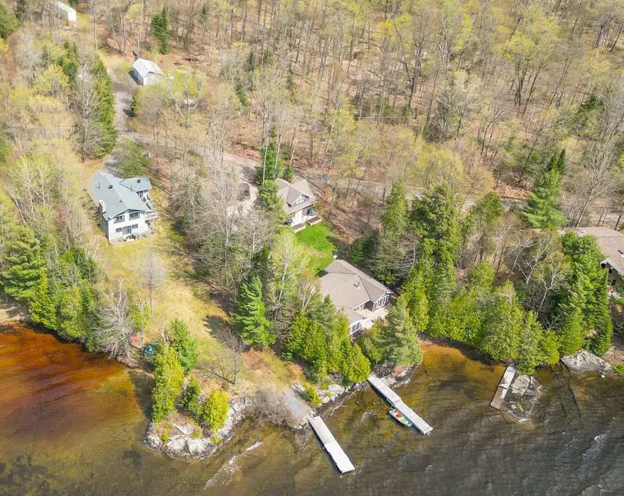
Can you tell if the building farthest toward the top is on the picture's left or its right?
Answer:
left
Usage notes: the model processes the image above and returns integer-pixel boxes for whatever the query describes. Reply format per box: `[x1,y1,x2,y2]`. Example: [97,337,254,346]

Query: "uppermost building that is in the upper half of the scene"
[133,58,162,86]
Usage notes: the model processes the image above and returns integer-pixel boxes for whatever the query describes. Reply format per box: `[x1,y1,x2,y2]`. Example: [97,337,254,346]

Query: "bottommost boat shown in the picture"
[388,409,416,431]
